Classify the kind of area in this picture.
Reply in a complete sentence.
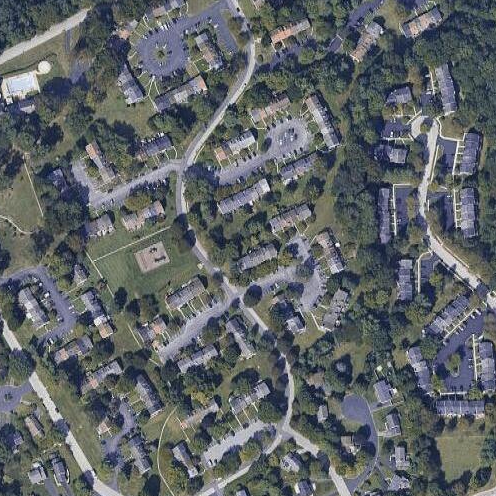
The area seen from above is a residential area.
